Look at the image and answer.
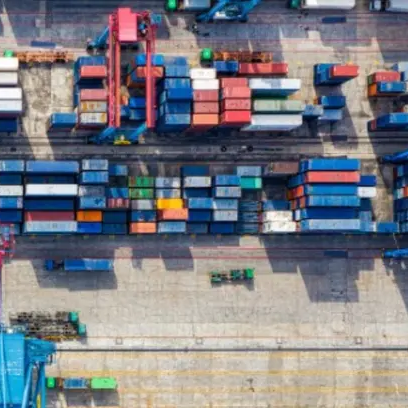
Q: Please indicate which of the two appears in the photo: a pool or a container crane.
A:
container crane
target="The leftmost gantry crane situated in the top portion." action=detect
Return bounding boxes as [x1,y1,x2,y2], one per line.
[80,7,156,148]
